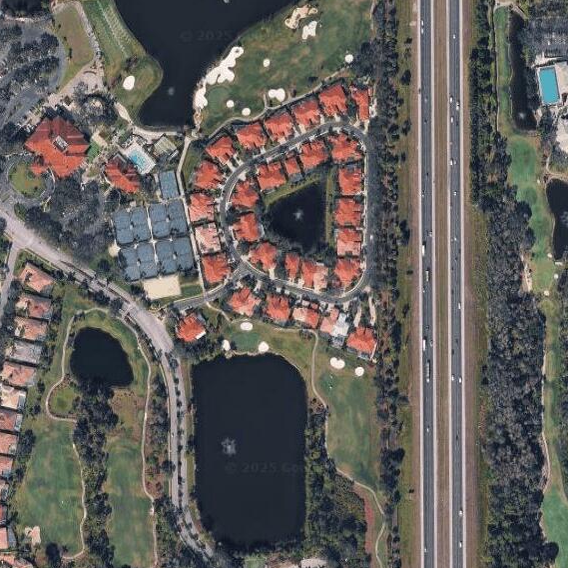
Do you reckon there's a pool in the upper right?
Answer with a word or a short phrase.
Yes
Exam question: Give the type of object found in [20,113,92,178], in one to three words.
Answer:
building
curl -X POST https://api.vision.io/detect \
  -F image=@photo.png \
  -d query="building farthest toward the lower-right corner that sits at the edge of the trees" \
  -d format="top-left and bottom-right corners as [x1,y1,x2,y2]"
[345,328,380,361]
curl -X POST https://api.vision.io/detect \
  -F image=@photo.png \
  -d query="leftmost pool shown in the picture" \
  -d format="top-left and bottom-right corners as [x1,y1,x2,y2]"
[124,142,154,174]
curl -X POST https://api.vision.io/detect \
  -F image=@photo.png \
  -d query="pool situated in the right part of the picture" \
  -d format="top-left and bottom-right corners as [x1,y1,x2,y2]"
[536,62,568,108]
